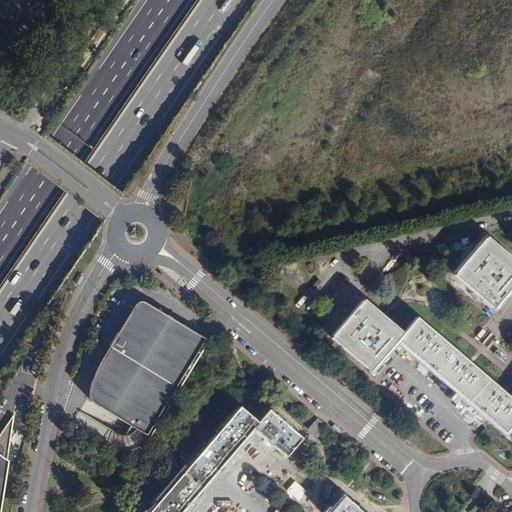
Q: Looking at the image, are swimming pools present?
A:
No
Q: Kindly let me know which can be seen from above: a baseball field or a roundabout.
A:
roundabout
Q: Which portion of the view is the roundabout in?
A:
left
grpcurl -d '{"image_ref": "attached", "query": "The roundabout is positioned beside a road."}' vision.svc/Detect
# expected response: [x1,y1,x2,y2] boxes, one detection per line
[106,201,167,264]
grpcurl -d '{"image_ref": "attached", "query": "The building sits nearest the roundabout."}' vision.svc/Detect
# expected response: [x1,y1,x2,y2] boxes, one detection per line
[90,302,204,432]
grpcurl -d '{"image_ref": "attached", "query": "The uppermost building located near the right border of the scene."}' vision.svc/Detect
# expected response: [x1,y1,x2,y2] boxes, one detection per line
[454,236,512,310]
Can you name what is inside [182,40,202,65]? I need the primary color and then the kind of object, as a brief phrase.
white vehicle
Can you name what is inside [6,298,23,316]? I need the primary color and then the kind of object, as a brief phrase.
white vehicle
